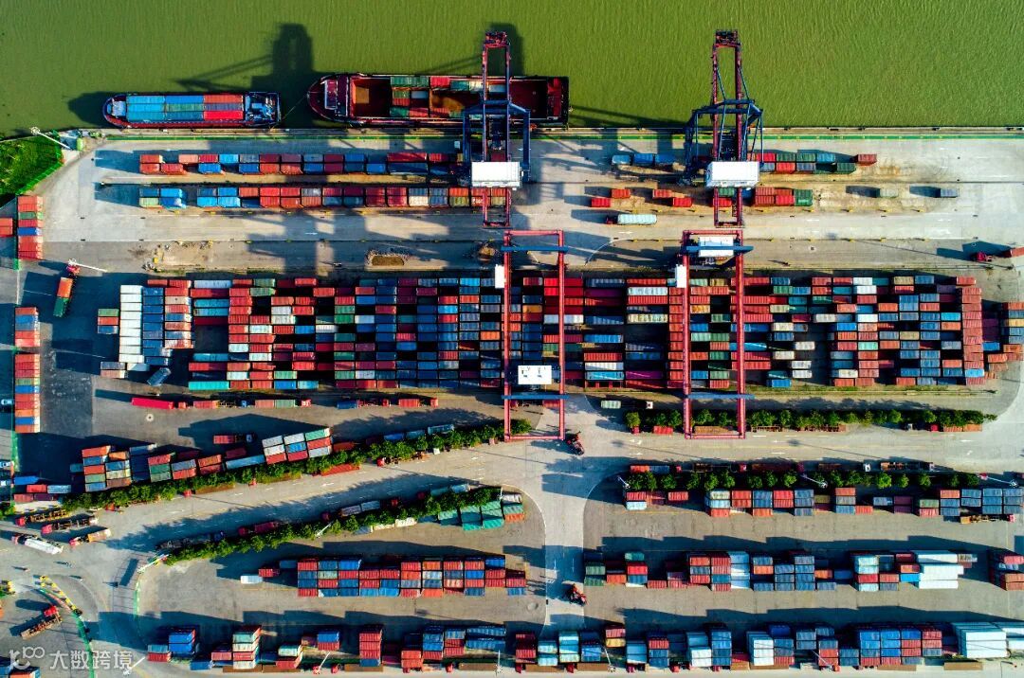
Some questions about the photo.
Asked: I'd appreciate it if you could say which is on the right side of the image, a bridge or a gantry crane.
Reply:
gantry crane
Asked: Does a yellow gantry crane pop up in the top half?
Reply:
No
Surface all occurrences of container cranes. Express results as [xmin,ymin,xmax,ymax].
[492,230,571,439]
[663,230,759,439]
[459,29,537,231]
[669,29,762,230]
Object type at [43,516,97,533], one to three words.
vehicle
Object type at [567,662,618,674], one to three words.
vehicle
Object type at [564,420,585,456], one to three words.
work vehicle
